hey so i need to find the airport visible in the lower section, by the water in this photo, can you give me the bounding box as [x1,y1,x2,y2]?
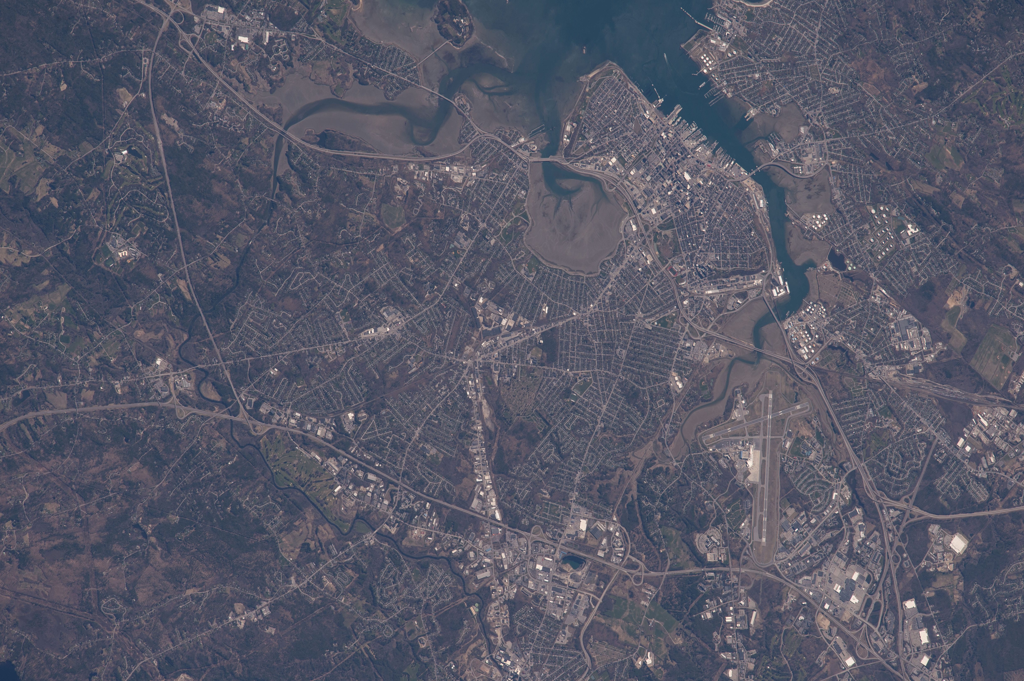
[700,371,812,564]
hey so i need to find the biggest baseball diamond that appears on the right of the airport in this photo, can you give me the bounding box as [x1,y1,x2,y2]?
[974,341,1017,385]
